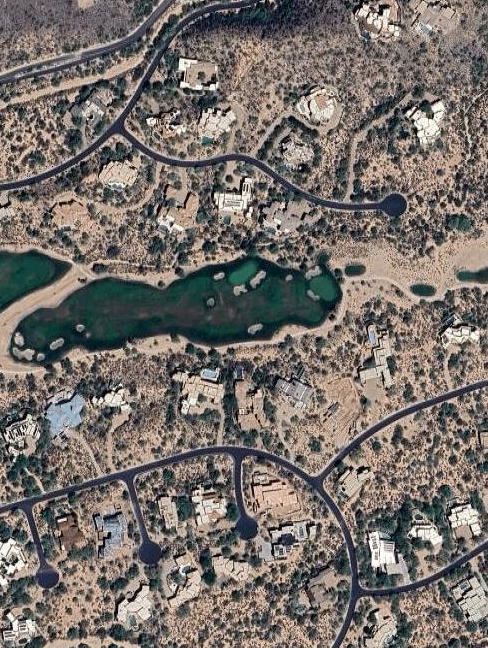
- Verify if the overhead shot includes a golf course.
Yes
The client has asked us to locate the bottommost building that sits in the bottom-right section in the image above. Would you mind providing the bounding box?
[364,605,397,648]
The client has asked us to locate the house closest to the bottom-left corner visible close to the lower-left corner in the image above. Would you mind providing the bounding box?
[1,606,37,644]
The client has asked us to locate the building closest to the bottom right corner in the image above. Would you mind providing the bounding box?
[450,574,488,624]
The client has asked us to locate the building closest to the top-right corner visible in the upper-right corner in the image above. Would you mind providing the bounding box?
[406,0,456,36]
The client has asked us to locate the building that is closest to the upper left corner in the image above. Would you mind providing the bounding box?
[74,90,114,123]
